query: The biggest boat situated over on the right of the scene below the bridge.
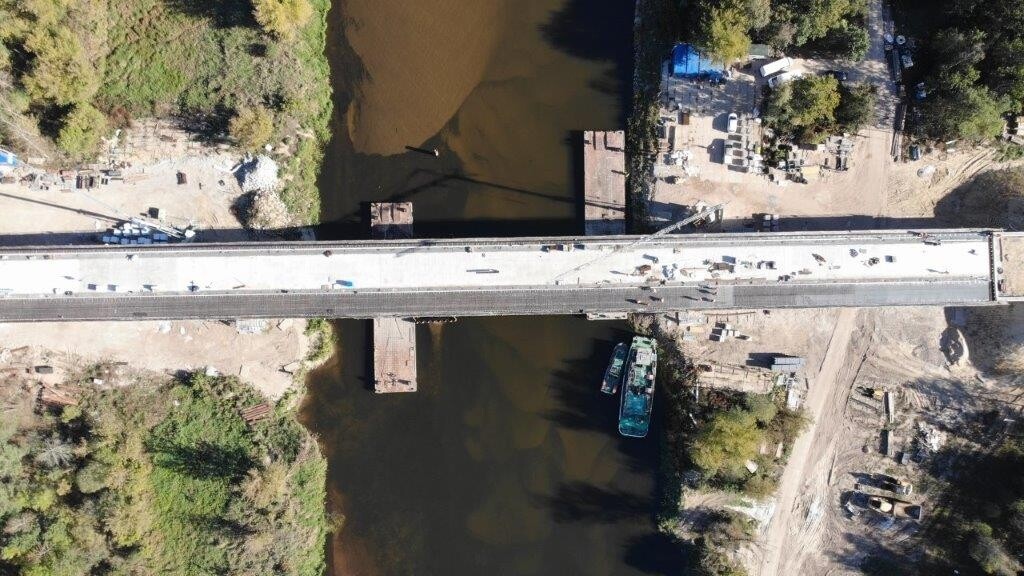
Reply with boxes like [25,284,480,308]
[617,334,660,439]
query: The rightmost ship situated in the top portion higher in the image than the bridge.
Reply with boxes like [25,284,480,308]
[583,131,628,236]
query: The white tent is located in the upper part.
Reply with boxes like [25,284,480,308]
[0,147,20,172]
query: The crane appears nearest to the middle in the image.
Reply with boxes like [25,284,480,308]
[556,199,731,279]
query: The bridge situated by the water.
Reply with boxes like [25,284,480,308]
[0,227,1024,322]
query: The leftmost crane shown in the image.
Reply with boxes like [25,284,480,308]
[77,187,197,243]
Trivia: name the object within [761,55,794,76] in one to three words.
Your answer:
truck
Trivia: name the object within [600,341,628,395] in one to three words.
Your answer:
boat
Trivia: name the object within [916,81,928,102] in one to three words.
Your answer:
vehicle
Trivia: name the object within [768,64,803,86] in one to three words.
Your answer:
vehicle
